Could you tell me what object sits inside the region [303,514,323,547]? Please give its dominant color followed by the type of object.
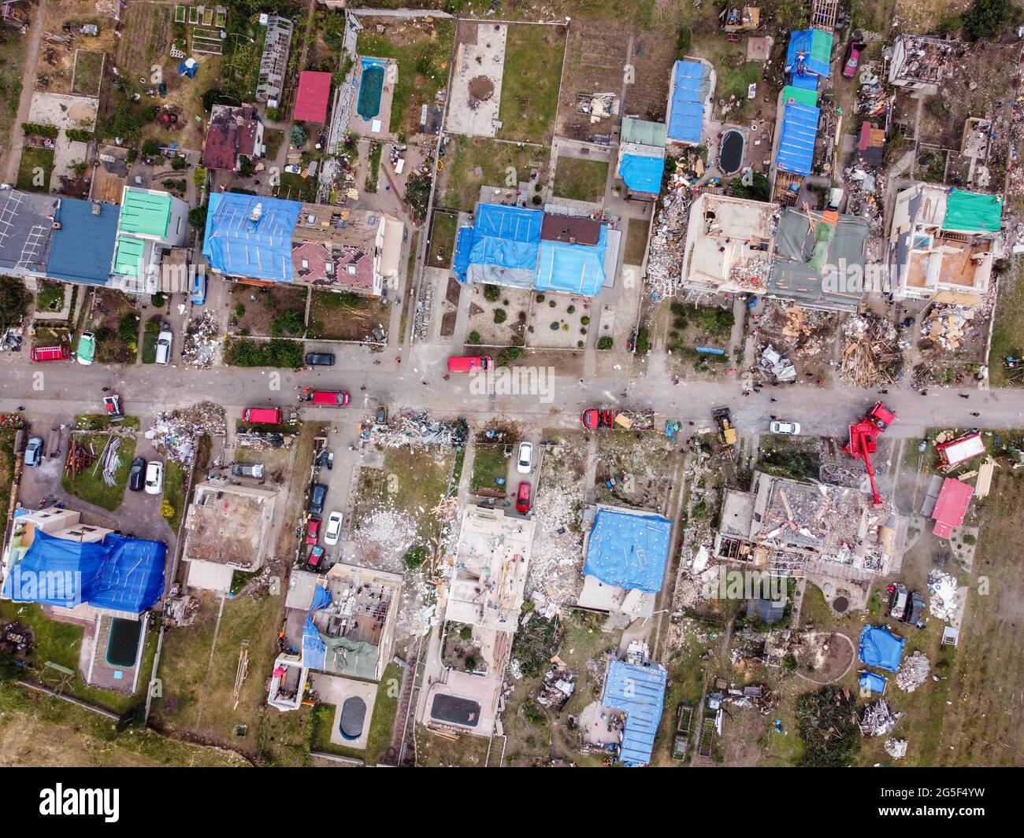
red car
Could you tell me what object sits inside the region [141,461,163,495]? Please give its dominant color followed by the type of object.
white car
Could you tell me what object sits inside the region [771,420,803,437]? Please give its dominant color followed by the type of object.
white car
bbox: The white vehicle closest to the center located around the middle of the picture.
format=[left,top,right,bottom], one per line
[516,441,534,475]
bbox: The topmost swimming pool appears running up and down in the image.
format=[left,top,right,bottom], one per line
[357,59,388,121]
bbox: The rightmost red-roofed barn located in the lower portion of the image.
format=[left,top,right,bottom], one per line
[913,475,973,538]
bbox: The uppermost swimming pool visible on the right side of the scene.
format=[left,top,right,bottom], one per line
[719,126,747,174]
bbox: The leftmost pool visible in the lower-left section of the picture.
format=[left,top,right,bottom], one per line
[104,617,142,669]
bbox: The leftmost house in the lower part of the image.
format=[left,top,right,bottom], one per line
[0,504,179,621]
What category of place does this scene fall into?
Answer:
residential area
